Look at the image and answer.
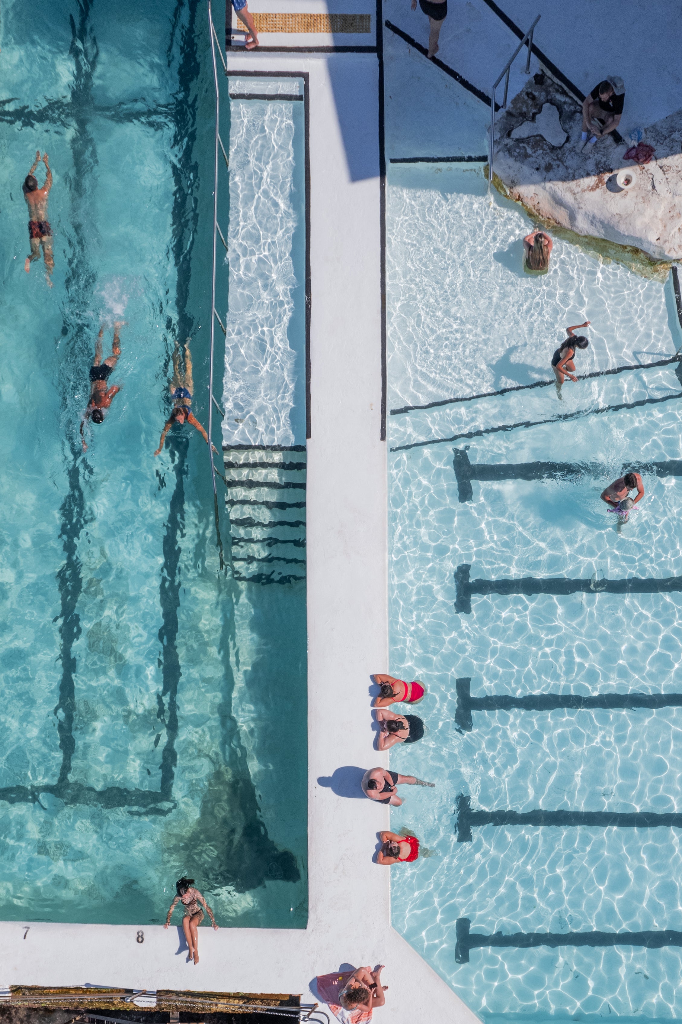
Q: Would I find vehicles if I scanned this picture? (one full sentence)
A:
No, I can't see a single vehicle in this photo.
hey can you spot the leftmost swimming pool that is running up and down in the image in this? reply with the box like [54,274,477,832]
[0,0,308,929]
